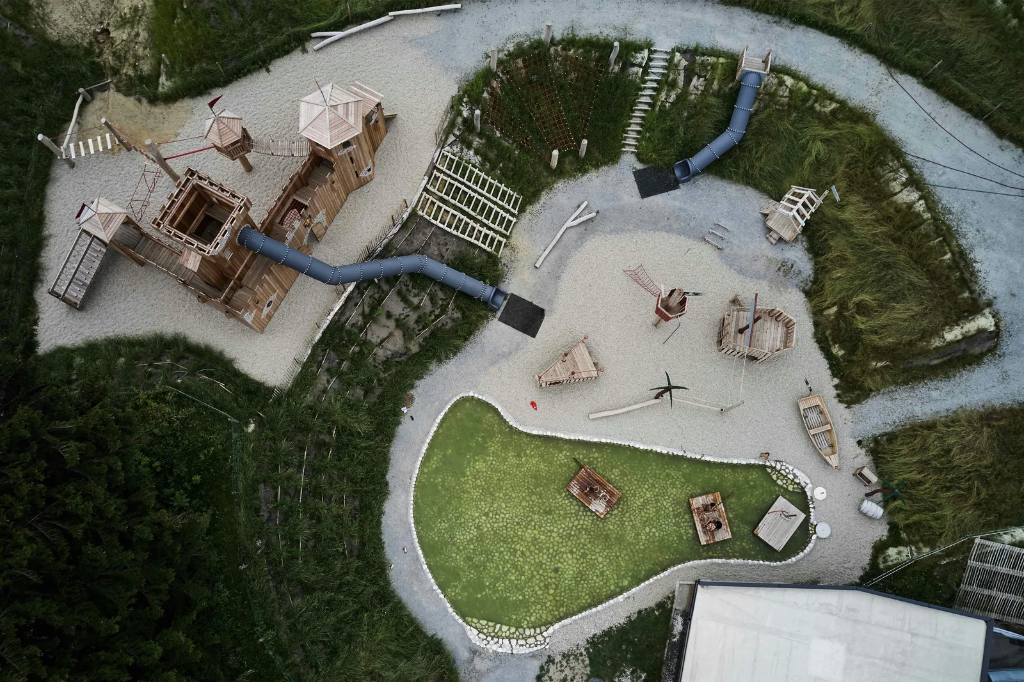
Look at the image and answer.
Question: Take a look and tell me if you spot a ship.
Yes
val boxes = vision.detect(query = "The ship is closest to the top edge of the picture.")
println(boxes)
[717,293,797,364]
